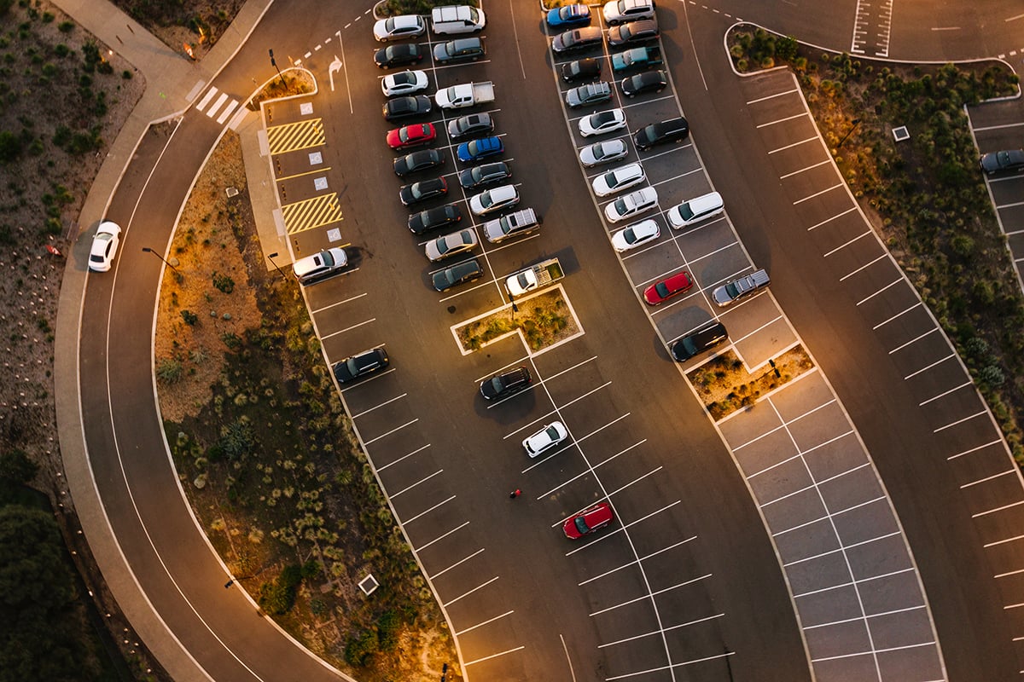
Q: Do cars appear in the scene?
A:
Yes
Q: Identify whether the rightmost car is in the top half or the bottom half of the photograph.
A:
top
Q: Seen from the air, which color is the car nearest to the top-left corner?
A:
white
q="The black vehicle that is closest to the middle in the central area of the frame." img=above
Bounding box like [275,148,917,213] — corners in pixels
[477,364,535,401]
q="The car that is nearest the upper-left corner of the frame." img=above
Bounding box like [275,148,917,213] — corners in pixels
[88,221,123,273]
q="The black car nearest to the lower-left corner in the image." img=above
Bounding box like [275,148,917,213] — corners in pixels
[333,346,392,382]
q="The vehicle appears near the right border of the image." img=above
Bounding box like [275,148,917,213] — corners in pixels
[978,147,1024,174]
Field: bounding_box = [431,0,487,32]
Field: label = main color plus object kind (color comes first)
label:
white van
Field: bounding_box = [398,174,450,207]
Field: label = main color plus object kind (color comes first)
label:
black car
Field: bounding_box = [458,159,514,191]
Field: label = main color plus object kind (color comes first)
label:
black car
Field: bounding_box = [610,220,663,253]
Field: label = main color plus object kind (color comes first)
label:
white car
